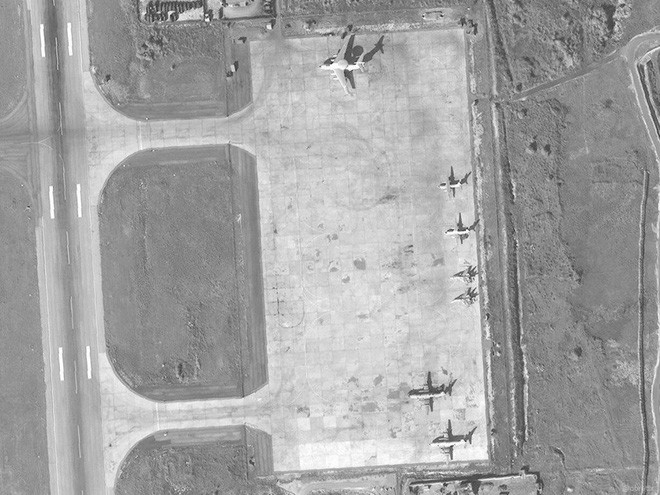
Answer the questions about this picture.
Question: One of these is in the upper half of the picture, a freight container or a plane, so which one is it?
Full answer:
Visible in the upper half of the picture is a plane.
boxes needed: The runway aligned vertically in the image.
[23,0,115,495]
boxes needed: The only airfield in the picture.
[23,0,489,495]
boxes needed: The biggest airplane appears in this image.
[320,39,366,92]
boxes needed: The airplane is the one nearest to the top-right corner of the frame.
[439,170,463,200]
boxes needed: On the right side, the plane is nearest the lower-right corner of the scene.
[431,423,467,464]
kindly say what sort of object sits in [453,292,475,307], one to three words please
airplane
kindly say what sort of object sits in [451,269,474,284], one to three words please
airplane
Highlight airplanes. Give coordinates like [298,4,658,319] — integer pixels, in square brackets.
[320,39,366,92]
[431,423,467,464]
[453,292,475,307]
[451,269,474,284]
[439,170,463,200]
[446,216,471,247]
[409,376,447,416]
